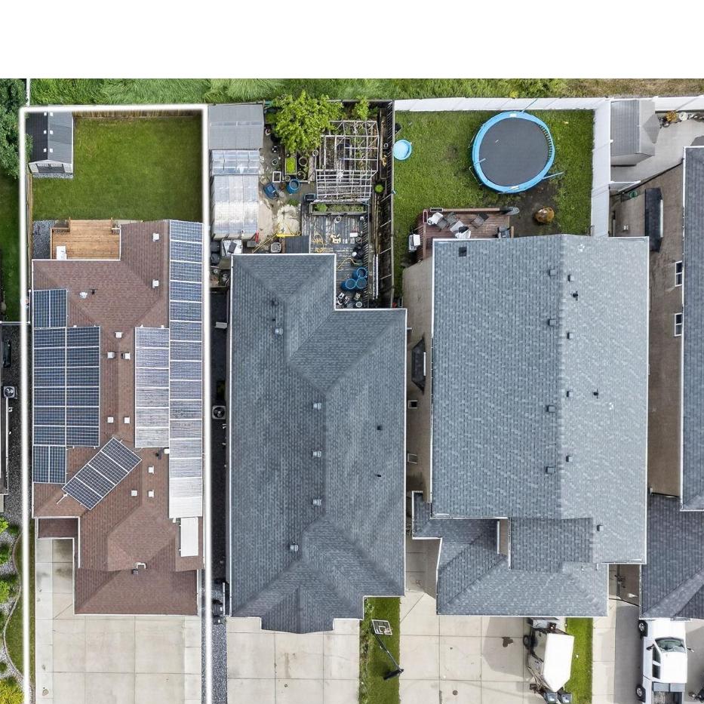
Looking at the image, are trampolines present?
Yes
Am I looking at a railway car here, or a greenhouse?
greenhouse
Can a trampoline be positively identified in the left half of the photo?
No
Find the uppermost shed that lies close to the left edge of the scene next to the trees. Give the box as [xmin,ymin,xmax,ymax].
[27,108,73,175]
